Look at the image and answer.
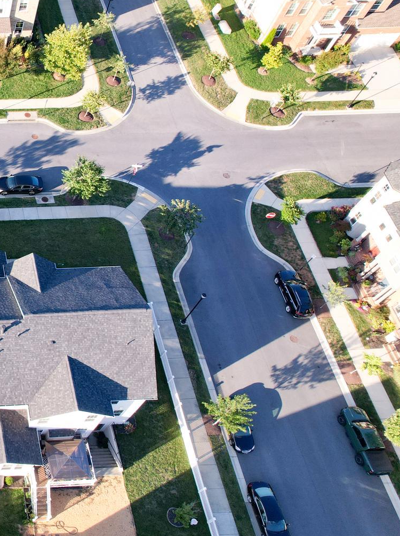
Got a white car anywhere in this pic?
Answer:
No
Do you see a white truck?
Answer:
No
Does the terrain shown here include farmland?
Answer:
No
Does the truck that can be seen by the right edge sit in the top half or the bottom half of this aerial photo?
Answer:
bottom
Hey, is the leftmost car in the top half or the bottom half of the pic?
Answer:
top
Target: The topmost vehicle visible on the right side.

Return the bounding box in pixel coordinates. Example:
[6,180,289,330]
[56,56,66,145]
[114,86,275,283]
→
[275,272,316,318]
